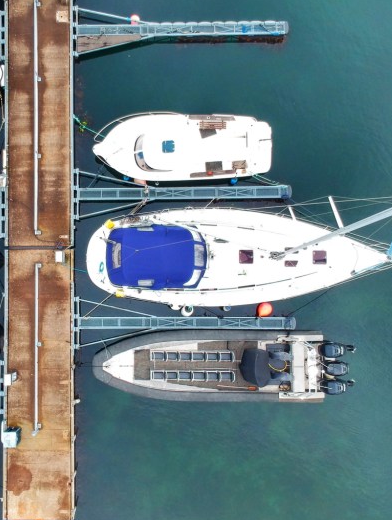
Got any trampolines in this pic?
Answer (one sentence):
No, the frame has no trampoline in it.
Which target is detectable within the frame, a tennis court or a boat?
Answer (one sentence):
Visible in the photo is a boat.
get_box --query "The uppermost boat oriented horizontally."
[92,112,273,182]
